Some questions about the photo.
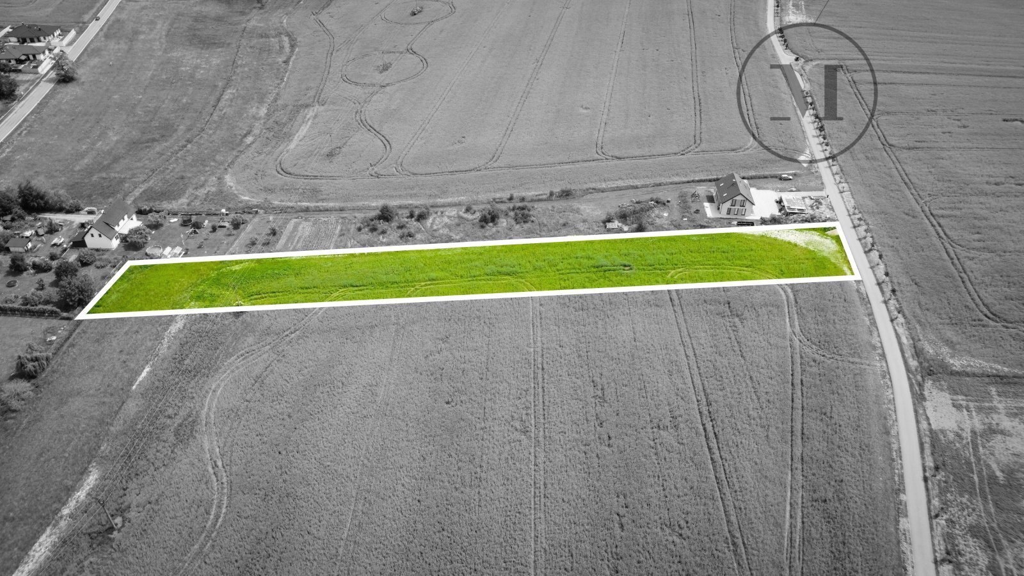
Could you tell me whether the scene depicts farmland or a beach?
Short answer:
farmland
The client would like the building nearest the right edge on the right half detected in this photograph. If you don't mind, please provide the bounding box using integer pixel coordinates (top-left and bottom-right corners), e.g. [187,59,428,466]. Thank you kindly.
[782,192,811,217]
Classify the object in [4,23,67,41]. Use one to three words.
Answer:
house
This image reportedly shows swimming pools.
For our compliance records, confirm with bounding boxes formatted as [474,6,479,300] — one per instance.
[143,244,163,257]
